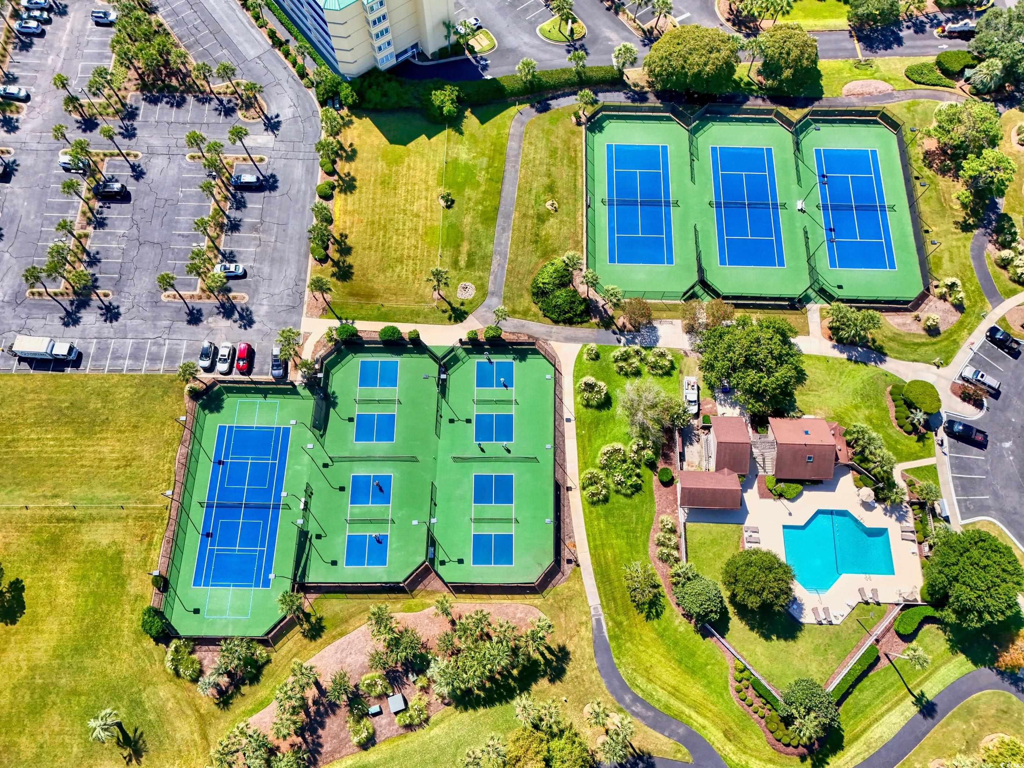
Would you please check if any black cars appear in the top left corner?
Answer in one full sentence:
Yes, a black car appears in the top left corner.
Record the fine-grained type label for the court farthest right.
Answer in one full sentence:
In the photo, the court farthest right shows up as a tennis court.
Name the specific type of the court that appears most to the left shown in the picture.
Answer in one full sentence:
I'd say the court that appears most to the left is a tennis court.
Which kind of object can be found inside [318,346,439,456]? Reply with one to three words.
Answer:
sports court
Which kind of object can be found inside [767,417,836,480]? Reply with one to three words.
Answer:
building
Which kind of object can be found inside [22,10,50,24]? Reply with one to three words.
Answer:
car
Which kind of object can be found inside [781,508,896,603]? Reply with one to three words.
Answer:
swimming pool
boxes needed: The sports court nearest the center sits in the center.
[435,347,555,456]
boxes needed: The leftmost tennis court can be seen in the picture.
[163,367,325,637]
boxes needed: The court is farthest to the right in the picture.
[792,118,924,309]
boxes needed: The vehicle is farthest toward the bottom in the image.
[944,422,988,446]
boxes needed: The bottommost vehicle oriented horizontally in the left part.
[12,341,78,365]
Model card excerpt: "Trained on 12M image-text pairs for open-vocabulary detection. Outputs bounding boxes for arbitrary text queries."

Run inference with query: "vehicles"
[944,422,988,446]
[197,340,216,369]
[462,15,484,33]
[962,367,1002,393]
[235,343,253,372]
[0,87,29,101]
[983,327,1023,355]
[683,376,700,413]
[0,166,10,178]
[93,184,127,200]
[12,341,78,365]
[22,0,50,11]
[231,174,261,189]
[22,10,50,24]
[14,20,43,35]
[215,263,245,278]
[91,9,118,24]
[217,344,234,373]
[269,346,286,380]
